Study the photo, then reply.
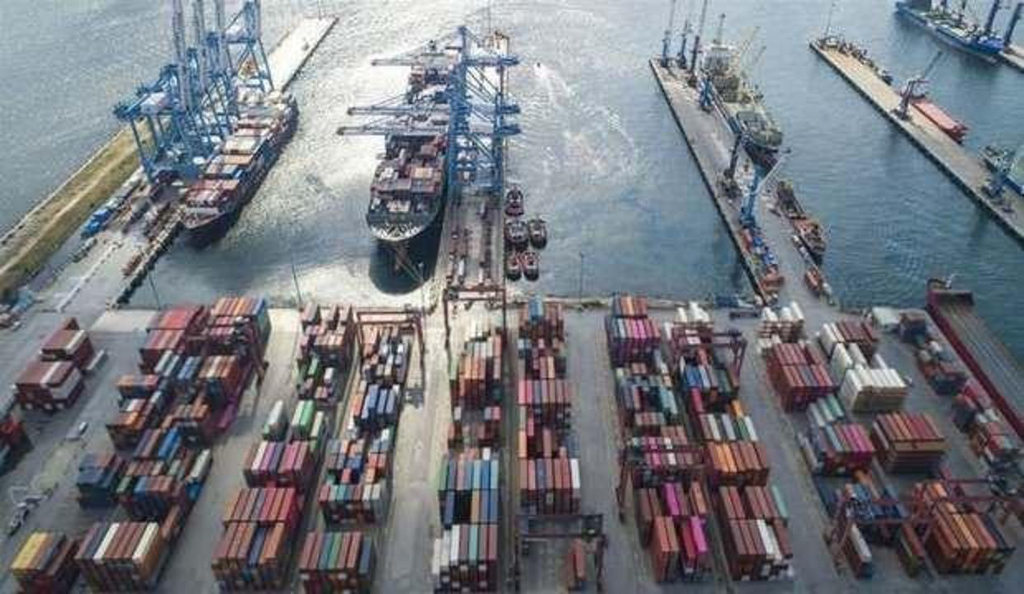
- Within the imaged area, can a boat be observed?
Yes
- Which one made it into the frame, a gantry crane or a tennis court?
gantry crane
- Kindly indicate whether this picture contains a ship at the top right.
Yes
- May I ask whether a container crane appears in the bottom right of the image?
Yes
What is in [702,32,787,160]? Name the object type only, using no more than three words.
ship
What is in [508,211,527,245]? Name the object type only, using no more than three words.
boat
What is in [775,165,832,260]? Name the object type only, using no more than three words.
ship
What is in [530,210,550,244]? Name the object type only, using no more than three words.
boat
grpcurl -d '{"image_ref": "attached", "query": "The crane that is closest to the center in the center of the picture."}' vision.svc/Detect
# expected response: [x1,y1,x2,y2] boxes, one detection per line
[442,282,511,344]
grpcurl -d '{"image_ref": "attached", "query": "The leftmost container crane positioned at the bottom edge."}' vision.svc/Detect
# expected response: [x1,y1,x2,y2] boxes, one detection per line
[513,510,614,594]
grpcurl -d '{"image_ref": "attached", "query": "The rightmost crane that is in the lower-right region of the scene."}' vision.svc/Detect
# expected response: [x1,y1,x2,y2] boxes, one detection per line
[887,469,1024,550]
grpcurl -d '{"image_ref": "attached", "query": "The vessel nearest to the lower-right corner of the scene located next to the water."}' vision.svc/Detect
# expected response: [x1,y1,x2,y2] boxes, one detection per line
[921,279,1024,433]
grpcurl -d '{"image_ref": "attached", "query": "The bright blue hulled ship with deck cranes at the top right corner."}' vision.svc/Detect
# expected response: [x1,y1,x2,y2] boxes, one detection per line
[900,0,1012,72]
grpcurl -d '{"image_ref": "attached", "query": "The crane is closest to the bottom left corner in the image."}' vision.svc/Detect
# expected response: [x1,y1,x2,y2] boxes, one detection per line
[169,322,266,388]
